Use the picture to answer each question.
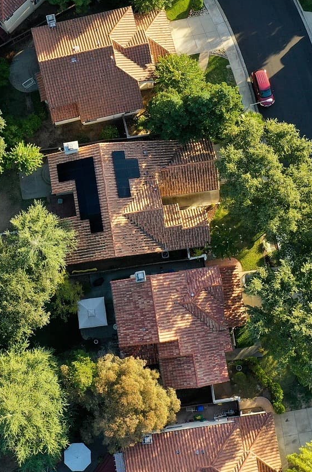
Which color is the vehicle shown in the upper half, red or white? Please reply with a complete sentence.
From above, the vehicle shown in the upper half appears red.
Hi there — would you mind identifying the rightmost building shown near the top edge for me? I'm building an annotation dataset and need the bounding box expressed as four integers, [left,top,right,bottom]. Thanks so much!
[33,7,176,131]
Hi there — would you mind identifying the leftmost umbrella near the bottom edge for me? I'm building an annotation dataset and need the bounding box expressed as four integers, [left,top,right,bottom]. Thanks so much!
[64,443,91,471]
